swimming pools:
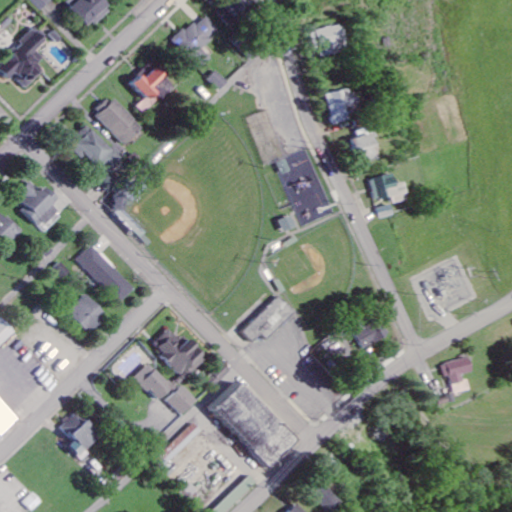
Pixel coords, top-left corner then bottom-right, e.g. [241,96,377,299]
[120,352,143,372]
[50,45,68,64]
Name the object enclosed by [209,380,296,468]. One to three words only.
building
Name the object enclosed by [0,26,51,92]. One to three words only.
house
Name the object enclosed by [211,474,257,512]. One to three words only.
shed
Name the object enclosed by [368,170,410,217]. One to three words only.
house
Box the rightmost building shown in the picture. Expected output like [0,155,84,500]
[440,356,474,398]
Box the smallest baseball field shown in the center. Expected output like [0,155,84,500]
[280,244,325,294]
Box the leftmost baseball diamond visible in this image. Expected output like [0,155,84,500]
[132,178,197,243]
